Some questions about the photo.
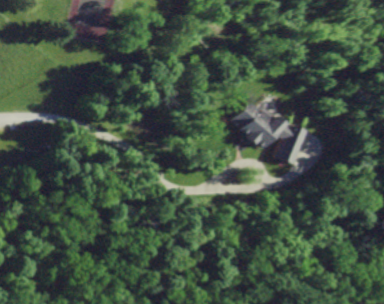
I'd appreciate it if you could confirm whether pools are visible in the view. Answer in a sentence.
No, I can't see a single pool in this photo.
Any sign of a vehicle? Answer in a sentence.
No, I find no vehicle anywhere in the image.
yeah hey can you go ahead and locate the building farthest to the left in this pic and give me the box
[232,100,292,149]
